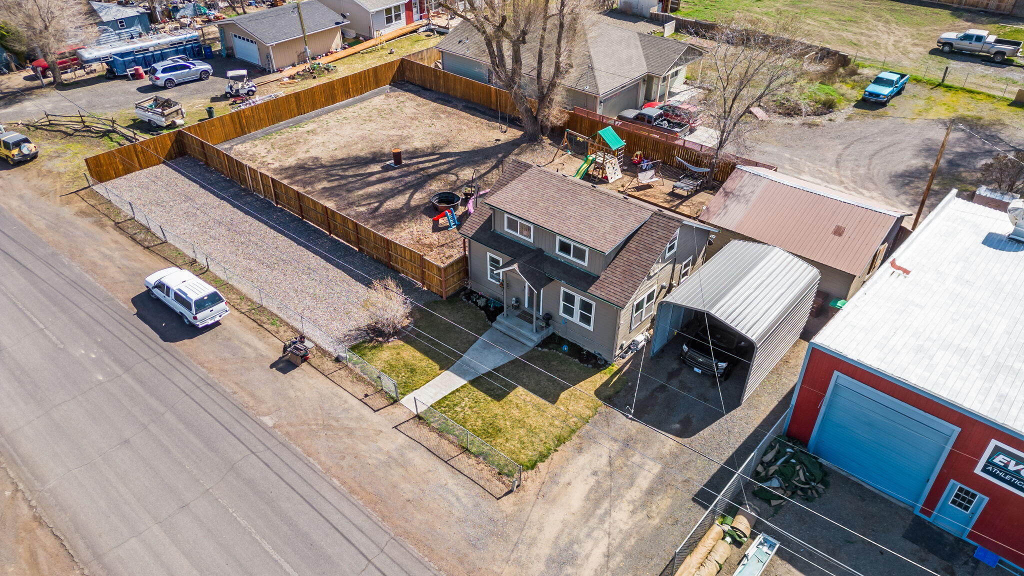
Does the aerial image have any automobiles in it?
Yes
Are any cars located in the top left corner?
Yes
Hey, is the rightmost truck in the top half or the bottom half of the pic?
top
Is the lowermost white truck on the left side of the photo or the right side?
left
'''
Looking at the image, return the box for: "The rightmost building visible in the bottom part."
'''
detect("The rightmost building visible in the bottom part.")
[780,189,1024,568]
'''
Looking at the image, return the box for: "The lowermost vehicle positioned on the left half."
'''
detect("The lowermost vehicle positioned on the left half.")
[139,261,233,326]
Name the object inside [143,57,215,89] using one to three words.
car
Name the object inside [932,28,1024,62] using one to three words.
truck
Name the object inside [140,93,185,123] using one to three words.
trailer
